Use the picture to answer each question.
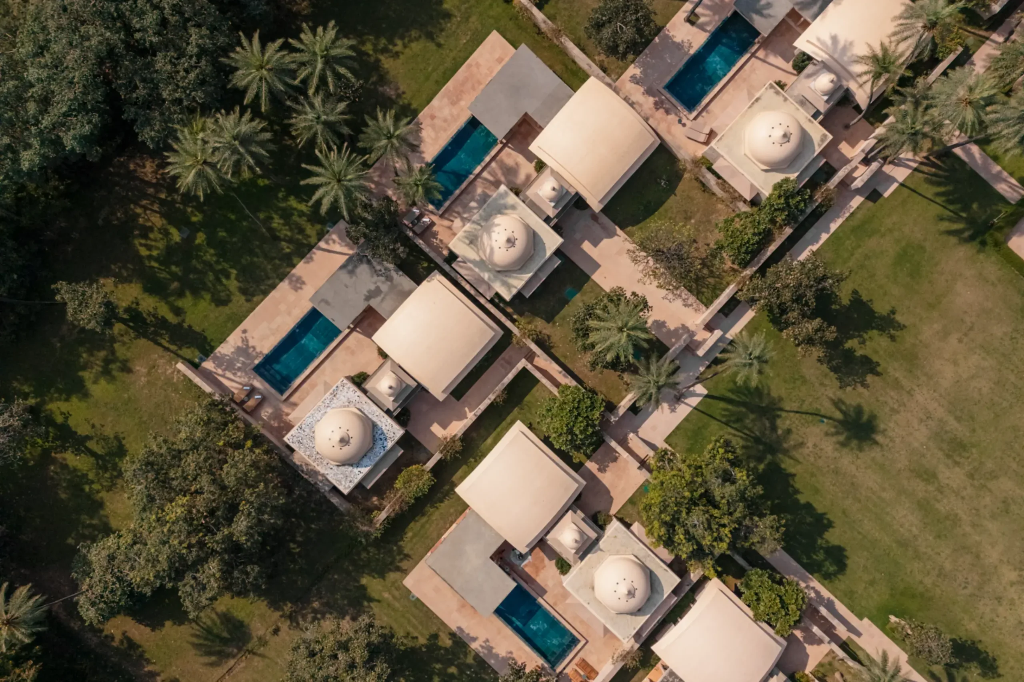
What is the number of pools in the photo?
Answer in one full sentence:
The picture shows 4 pools.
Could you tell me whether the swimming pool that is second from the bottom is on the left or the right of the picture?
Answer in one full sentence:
It is on the left.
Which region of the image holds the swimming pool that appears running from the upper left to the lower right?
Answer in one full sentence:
You can find the swimming pool that appears running from the upper left to the lower right in the bottom area of the picture.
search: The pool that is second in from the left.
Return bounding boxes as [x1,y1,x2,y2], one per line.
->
[406,115,521,217]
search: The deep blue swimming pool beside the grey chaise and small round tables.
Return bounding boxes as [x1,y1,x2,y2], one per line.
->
[659,4,787,122]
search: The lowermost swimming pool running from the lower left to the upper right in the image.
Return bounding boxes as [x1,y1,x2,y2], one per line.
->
[248,304,366,405]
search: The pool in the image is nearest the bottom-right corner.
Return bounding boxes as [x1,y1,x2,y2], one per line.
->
[488,565,586,674]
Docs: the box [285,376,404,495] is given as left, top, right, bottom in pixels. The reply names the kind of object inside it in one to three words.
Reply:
building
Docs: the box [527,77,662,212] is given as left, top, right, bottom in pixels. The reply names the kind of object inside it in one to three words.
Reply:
house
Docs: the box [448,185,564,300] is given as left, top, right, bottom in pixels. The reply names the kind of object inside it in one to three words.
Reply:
building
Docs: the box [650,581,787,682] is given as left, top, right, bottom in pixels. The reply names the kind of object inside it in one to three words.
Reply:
house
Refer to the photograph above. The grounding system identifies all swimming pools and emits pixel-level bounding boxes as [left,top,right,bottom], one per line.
[659,4,787,122]
[488,565,586,674]
[248,304,366,405]
[406,115,521,217]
